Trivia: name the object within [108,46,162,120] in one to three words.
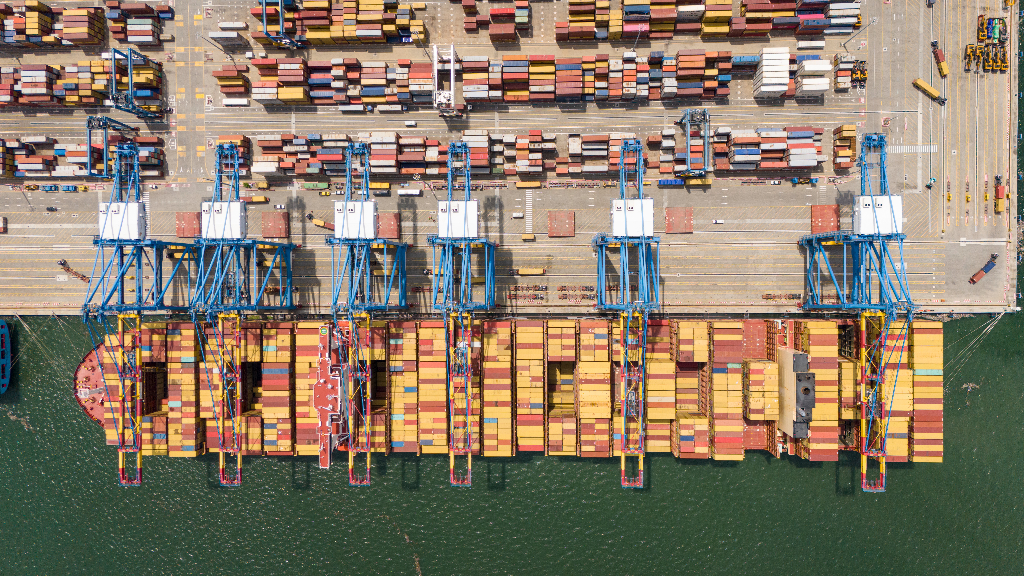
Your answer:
container crane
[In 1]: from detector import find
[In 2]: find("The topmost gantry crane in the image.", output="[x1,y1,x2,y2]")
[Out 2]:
[260,0,304,51]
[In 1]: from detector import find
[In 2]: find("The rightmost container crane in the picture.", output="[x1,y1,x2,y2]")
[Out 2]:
[798,132,917,496]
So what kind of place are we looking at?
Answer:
port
